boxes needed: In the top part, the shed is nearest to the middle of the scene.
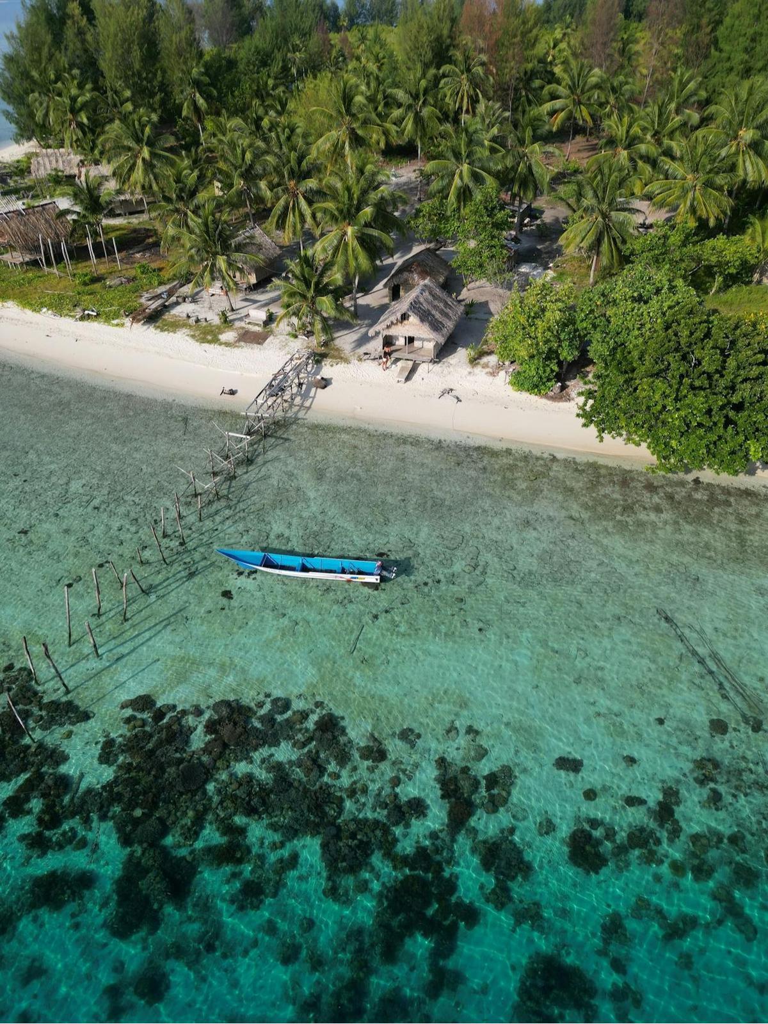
[369,279,466,375]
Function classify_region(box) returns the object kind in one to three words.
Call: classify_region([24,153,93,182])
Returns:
shed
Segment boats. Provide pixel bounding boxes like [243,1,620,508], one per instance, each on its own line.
[216,549,397,586]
